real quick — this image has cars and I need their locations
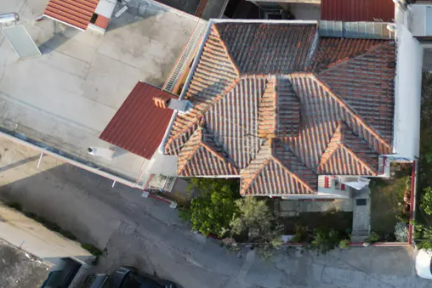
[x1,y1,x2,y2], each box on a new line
[413,250,432,281]
[104,263,181,288]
